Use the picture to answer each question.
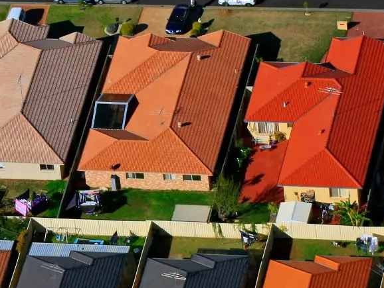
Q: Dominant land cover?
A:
buildings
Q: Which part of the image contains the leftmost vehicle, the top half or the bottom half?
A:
top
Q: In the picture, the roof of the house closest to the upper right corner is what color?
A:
red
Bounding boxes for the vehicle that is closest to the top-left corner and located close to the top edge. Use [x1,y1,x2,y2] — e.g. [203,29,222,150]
[2,1,27,22]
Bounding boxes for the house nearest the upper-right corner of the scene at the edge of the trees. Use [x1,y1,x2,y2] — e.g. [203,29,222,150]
[243,29,384,206]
